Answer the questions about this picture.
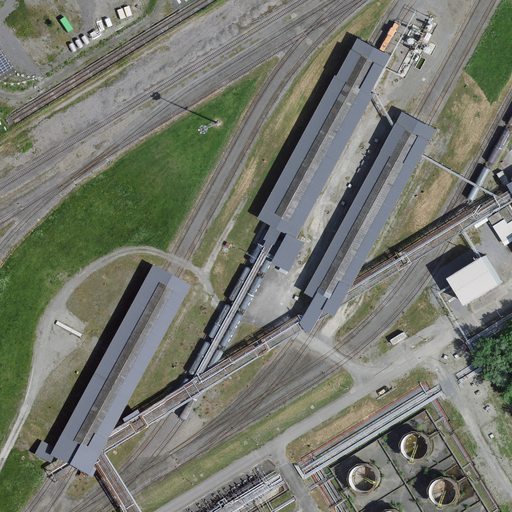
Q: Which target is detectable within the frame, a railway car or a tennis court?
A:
railway car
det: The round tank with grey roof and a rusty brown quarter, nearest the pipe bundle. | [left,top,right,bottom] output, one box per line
[348,462,381,494]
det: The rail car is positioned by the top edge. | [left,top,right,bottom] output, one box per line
[380,22,400,50]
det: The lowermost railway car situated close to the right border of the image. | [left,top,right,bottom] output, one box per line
[469,166,492,202]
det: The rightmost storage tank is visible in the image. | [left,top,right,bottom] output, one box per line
[428,476,460,508]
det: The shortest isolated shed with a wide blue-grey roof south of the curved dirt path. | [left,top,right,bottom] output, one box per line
[52,264,194,478]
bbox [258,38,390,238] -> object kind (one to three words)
shed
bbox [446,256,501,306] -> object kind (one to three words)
building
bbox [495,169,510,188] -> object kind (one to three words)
vehicle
